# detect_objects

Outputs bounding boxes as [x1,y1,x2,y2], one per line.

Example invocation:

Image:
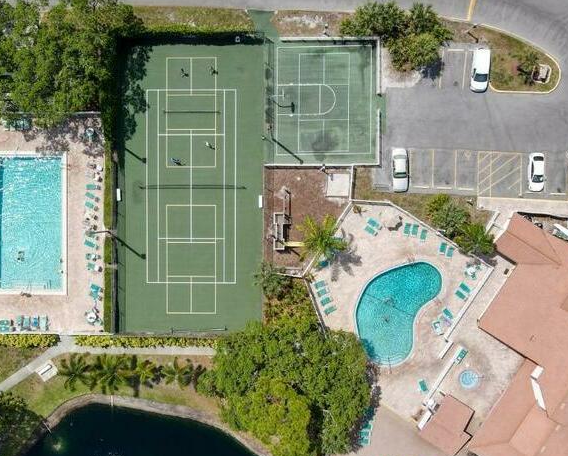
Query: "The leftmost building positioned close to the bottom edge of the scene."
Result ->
[421,394,474,454]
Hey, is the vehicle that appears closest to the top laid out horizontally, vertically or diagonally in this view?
vertically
